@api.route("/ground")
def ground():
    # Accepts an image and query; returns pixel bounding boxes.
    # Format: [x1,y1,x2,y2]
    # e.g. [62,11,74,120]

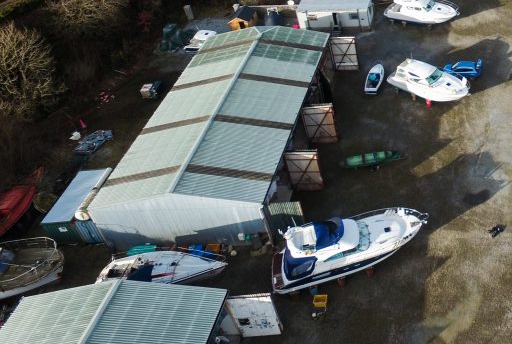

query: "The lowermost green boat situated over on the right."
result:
[344,153,399,169]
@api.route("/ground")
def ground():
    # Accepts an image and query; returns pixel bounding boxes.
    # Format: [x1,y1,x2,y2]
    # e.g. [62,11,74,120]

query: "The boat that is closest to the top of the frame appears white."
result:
[383,0,459,27]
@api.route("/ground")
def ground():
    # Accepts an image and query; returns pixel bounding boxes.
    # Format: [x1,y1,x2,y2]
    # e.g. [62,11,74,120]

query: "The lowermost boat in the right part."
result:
[268,212,428,307]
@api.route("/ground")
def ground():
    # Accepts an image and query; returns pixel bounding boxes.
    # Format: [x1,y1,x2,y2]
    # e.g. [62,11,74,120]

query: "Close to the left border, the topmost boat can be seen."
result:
[0,169,42,236]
